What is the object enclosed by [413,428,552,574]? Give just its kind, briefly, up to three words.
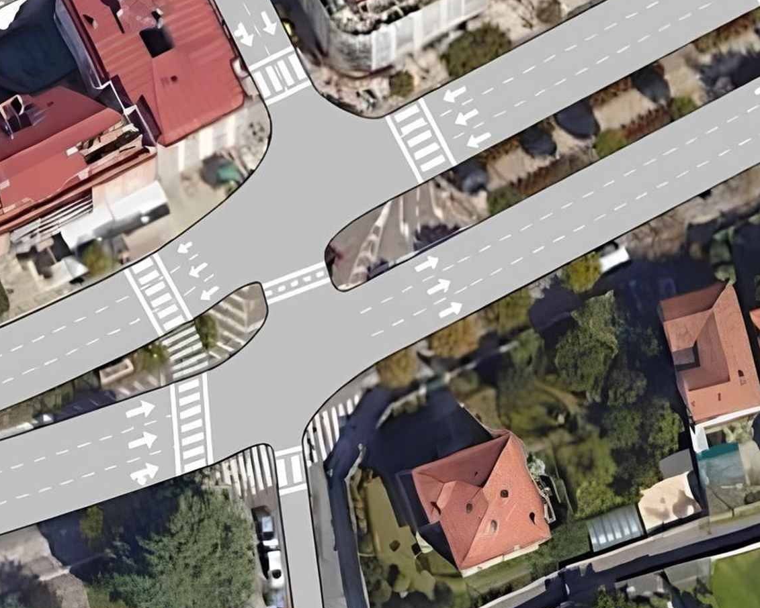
house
